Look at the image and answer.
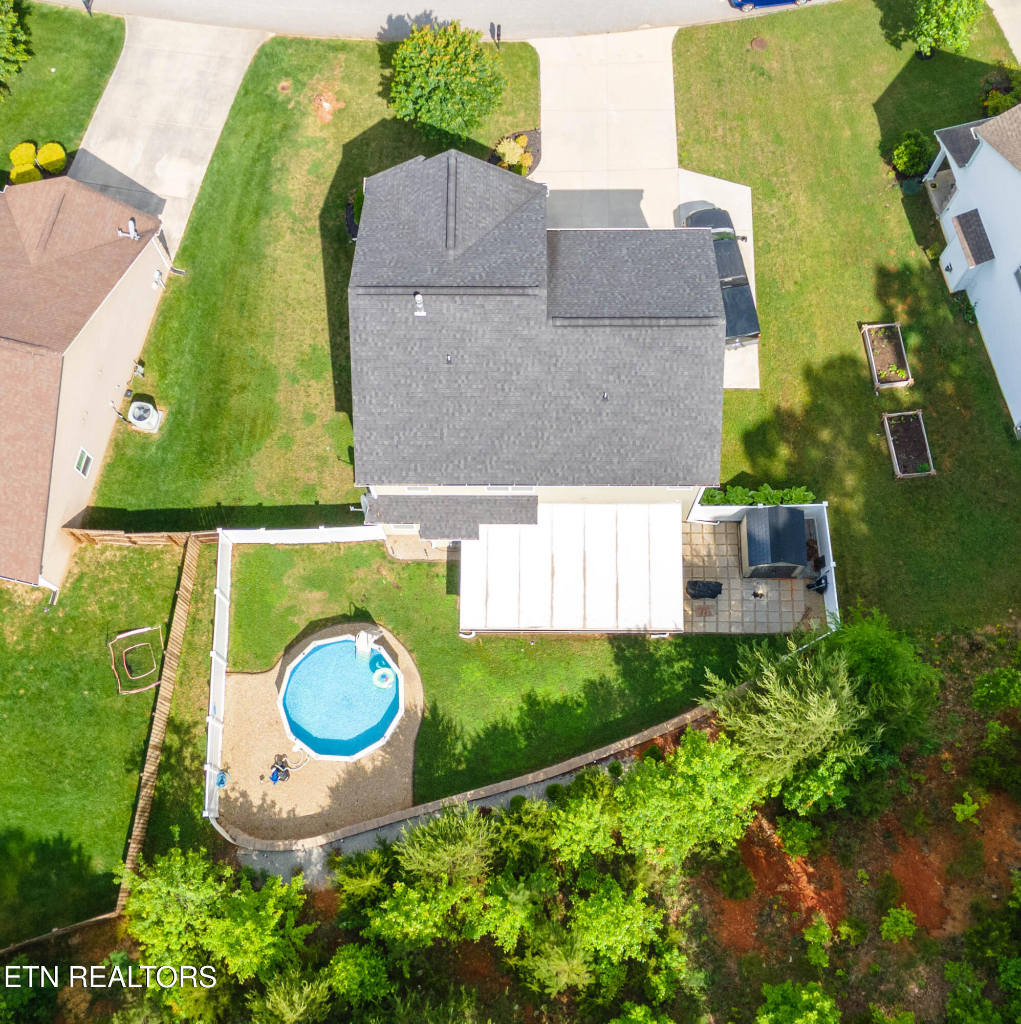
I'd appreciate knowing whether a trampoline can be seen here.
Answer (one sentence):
Yes, there is a trampoline in the image.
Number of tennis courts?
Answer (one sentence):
The photo contains no tennis courts.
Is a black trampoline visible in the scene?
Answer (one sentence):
No, no black trampoline is visible in the scene.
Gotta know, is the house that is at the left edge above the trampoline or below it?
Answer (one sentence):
The position of the house that is at the left edge is above the trampoline.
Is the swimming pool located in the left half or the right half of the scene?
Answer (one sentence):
You can find the swimming pool on the left side of the picture.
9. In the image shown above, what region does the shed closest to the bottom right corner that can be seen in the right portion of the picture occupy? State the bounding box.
[737,505,807,577]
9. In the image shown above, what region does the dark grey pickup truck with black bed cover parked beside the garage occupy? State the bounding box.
[683,205,767,352]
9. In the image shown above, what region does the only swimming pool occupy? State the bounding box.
[276,635,408,768]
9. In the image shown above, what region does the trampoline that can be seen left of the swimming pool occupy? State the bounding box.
[109,624,165,694]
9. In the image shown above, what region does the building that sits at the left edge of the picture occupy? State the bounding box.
[0,176,175,598]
